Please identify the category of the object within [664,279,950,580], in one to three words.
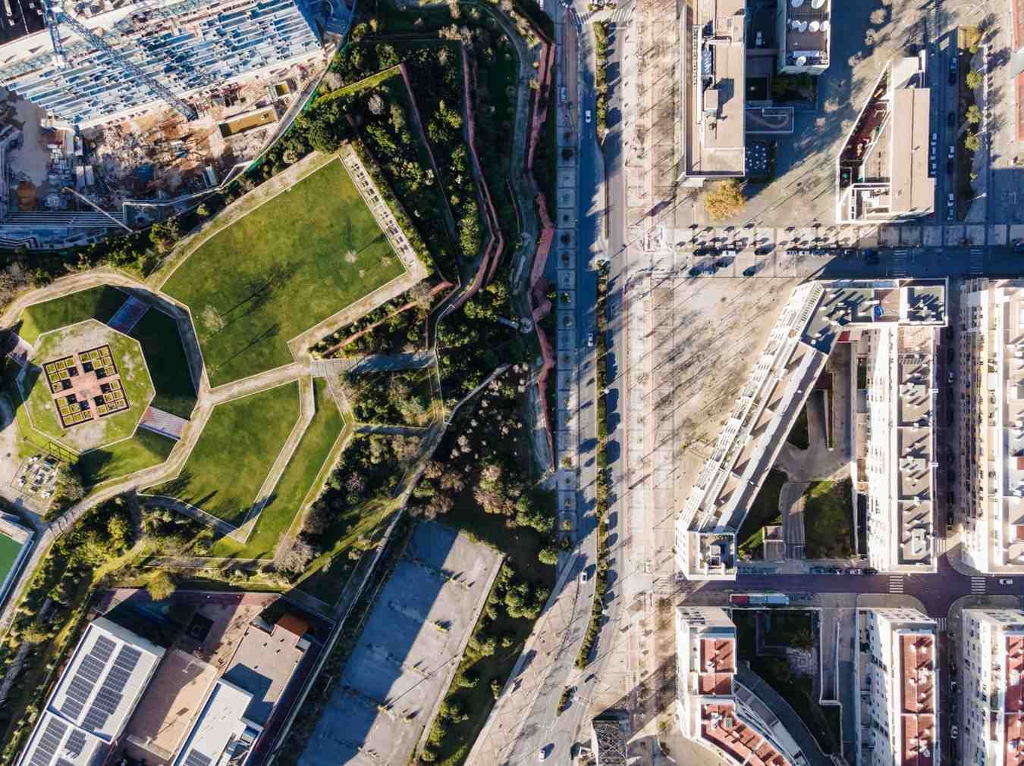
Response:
building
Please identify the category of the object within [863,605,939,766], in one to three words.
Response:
building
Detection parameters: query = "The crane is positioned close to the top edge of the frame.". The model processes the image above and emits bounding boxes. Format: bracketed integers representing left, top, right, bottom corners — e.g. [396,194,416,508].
[47,0,199,123]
